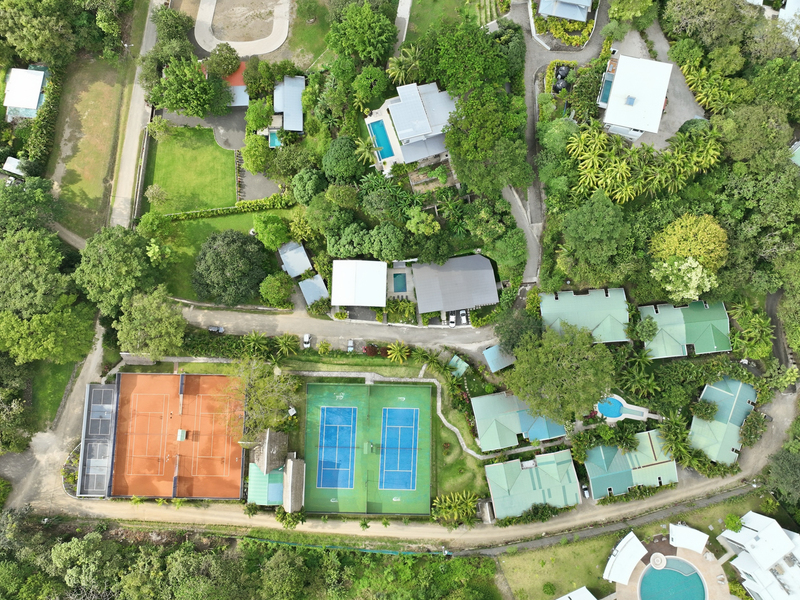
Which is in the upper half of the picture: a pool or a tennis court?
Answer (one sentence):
Visible in the upper half of the picture is a pool.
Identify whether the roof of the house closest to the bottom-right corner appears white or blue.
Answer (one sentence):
From above, the roof of the house closest to the bottom-right corner appears white.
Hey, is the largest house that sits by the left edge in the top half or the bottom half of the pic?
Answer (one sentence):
You can find the largest house that sits by the left edge in the top half.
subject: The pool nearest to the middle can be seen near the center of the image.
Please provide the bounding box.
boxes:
[388,266,416,301]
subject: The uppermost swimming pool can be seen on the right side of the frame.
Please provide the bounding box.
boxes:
[598,76,613,112]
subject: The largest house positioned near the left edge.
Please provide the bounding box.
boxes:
[3,65,54,123]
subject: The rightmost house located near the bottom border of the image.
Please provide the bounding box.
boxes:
[716,507,800,600]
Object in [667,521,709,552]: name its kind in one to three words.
building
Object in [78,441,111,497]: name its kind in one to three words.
sports court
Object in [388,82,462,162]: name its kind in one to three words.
house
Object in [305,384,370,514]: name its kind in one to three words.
tennis court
